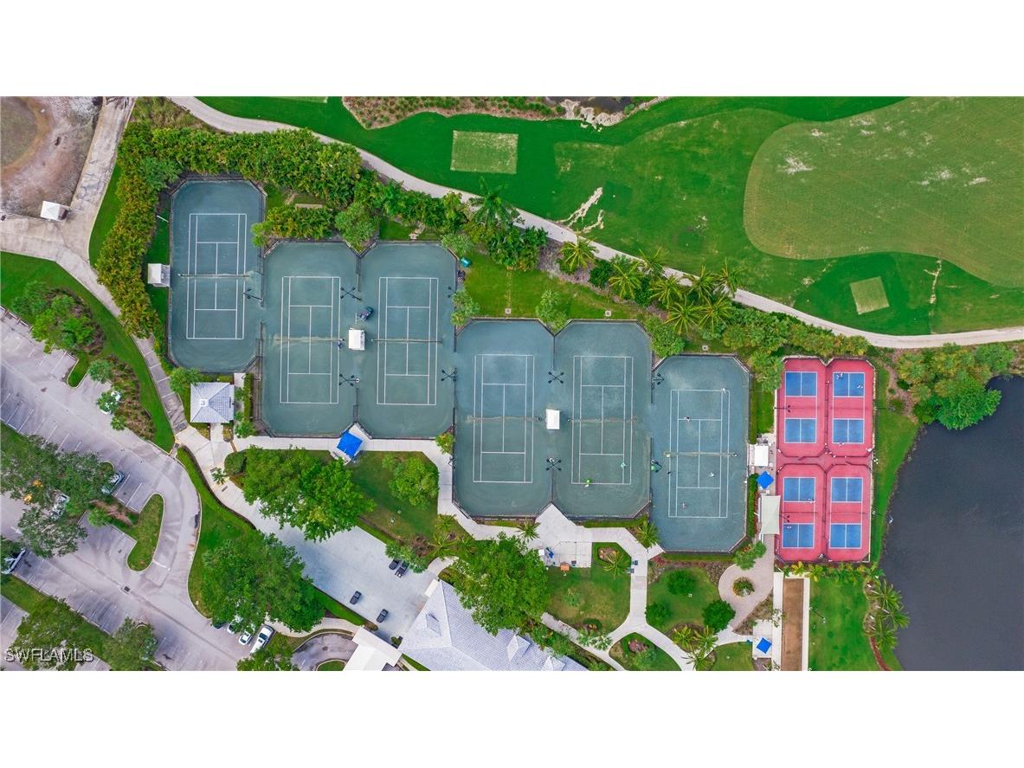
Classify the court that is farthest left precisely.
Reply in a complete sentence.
Specifically, the court that is farthest left is a tennis court.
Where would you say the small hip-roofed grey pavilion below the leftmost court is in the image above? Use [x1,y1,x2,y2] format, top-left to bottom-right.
[190,382,236,423]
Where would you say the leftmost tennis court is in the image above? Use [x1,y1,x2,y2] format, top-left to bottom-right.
[170,180,265,372]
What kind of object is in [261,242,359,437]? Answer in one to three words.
tennis court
